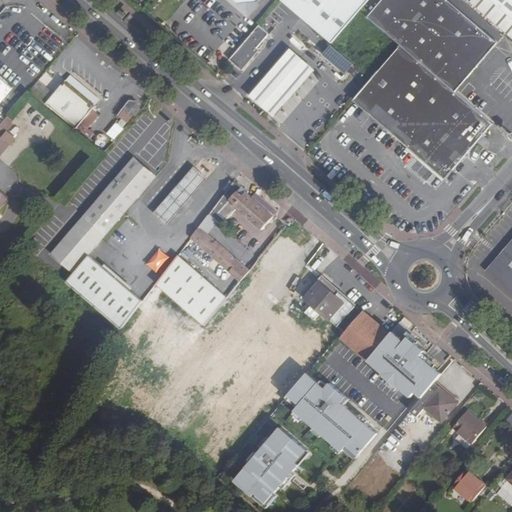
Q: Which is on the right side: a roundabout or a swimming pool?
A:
roundabout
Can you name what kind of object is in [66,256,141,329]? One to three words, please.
building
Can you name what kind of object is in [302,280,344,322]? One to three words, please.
house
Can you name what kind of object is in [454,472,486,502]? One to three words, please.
house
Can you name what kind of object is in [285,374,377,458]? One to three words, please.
building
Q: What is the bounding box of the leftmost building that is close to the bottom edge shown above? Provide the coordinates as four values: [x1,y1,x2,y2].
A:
[232,427,308,507]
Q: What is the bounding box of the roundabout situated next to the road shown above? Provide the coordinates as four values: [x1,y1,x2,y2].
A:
[388,240,461,311]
